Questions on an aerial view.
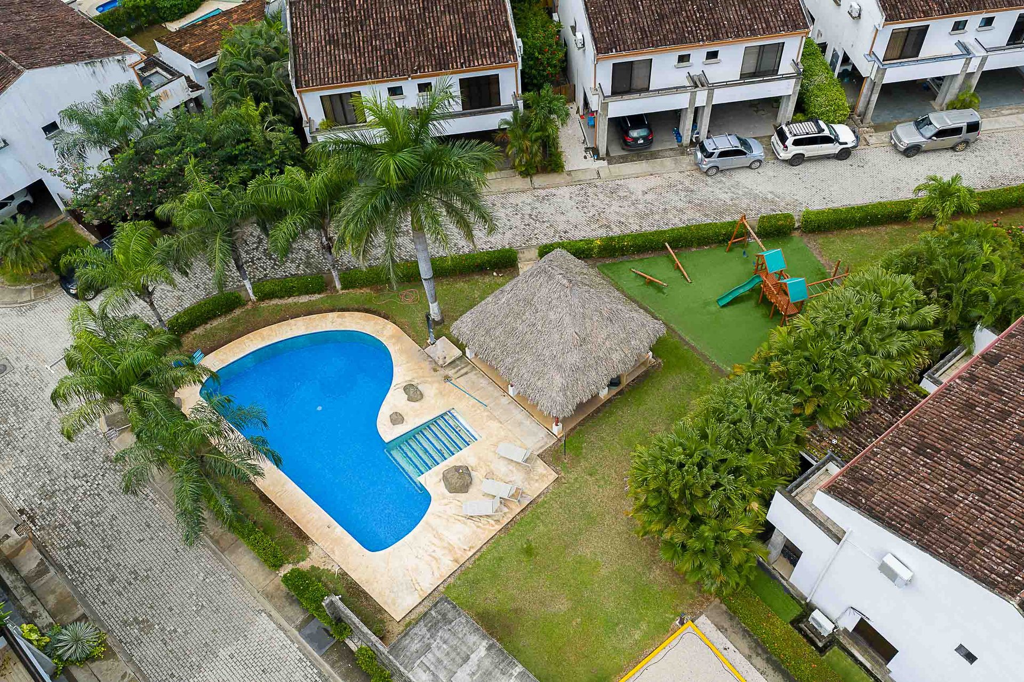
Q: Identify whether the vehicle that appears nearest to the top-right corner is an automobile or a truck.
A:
automobile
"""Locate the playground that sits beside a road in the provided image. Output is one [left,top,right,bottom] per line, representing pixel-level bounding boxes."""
[719,212,857,336]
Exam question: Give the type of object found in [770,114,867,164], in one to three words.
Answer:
car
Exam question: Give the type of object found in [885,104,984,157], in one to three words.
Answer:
car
